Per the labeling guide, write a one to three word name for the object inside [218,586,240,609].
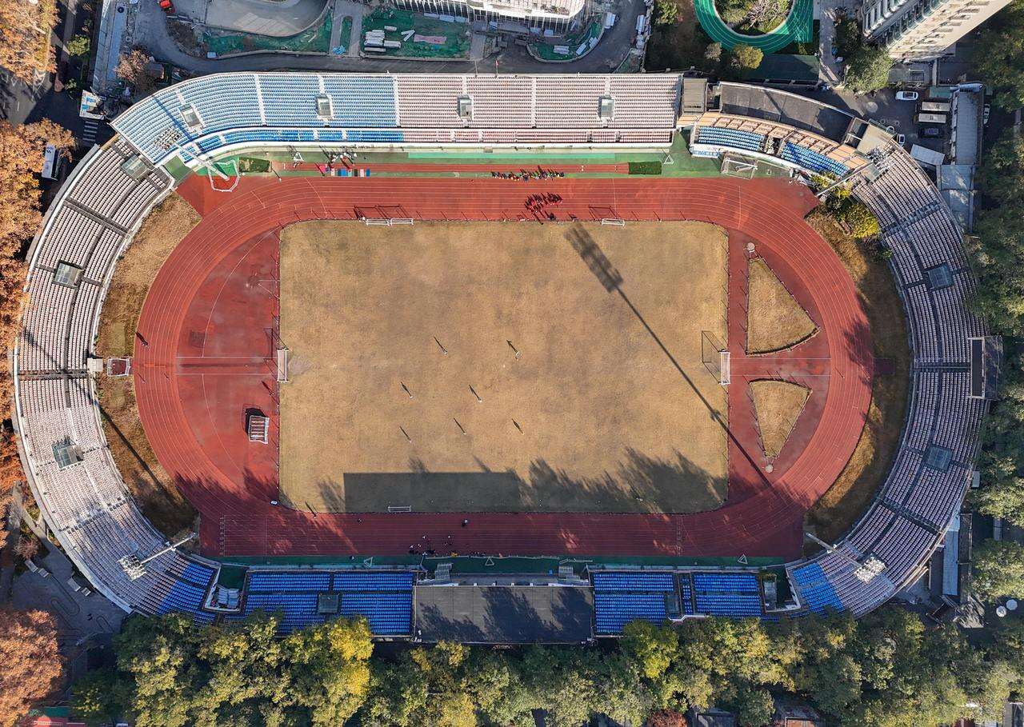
shed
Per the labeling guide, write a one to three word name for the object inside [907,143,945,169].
shed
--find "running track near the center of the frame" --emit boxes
[136,175,895,561]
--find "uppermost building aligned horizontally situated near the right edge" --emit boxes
[862,0,1013,63]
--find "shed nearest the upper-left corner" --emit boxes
[138,55,164,75]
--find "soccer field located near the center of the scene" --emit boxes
[280,223,728,512]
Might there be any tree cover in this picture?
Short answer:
Yes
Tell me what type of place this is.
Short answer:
sports ground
